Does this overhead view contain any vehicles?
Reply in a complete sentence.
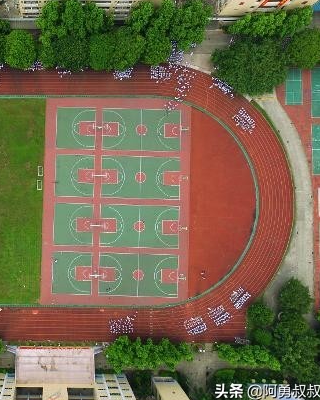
No, the picture doesn't show any vehicle.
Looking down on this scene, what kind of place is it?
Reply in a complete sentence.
This image shows a sports ground.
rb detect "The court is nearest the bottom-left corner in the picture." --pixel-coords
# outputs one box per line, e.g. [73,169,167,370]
[52,252,92,295]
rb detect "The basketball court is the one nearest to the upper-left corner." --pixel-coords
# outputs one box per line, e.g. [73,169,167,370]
[56,107,95,149]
